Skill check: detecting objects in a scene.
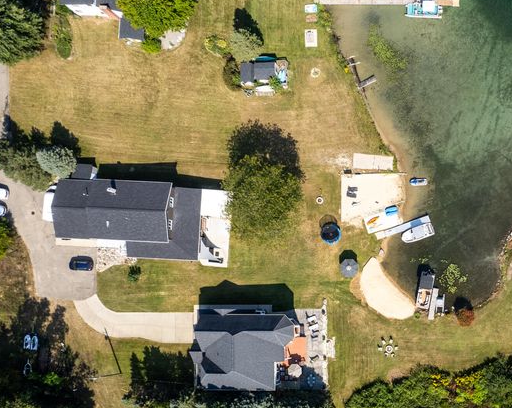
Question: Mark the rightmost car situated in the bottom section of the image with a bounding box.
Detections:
[69,256,96,270]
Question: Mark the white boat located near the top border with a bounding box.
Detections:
[406,0,445,20]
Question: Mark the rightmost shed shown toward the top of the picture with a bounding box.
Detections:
[240,60,288,97]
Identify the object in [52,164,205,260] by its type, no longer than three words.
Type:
house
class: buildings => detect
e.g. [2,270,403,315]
[189,305,302,391]
[240,60,288,97]
[58,0,149,43]
[52,164,205,260]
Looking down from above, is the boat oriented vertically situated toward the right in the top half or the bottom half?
bottom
